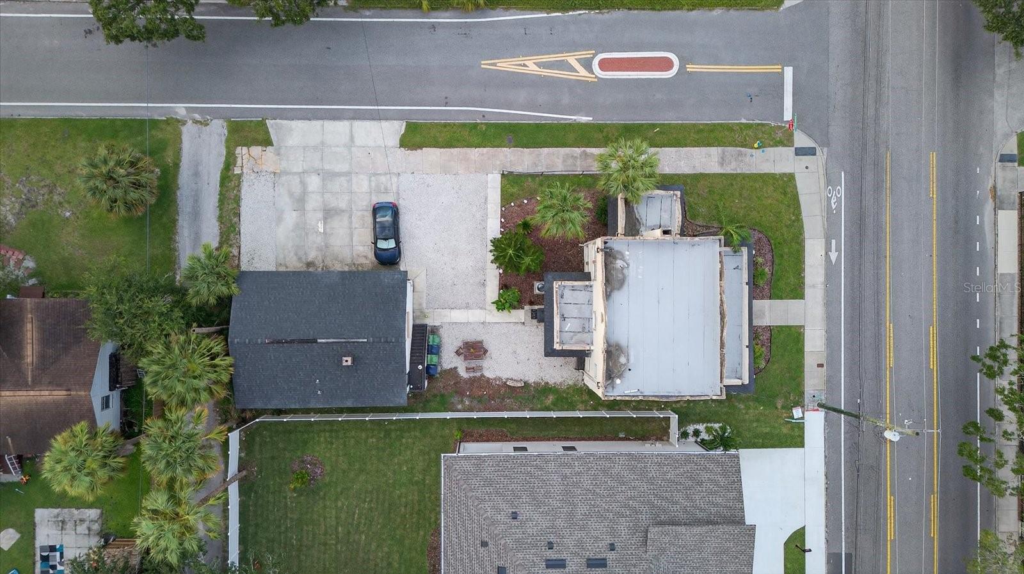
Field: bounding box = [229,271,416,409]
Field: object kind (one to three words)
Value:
shed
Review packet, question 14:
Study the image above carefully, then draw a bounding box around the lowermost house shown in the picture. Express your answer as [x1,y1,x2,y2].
[439,439,755,574]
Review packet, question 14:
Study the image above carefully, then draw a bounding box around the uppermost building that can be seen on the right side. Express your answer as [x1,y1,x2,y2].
[543,185,752,400]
